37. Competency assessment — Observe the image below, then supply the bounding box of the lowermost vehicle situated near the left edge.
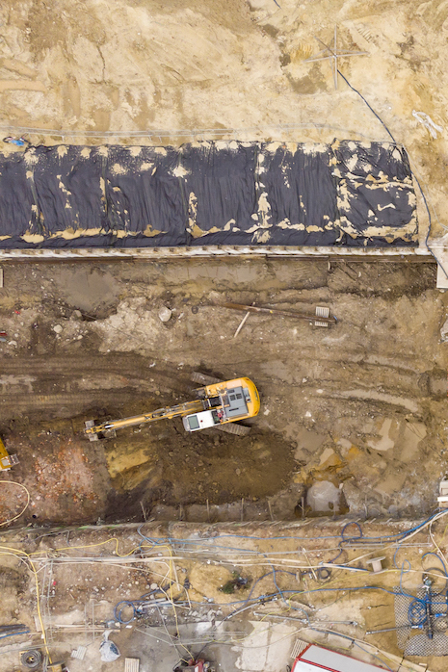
[0,435,27,474]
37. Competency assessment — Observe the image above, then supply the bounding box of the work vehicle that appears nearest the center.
[80,374,258,443]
